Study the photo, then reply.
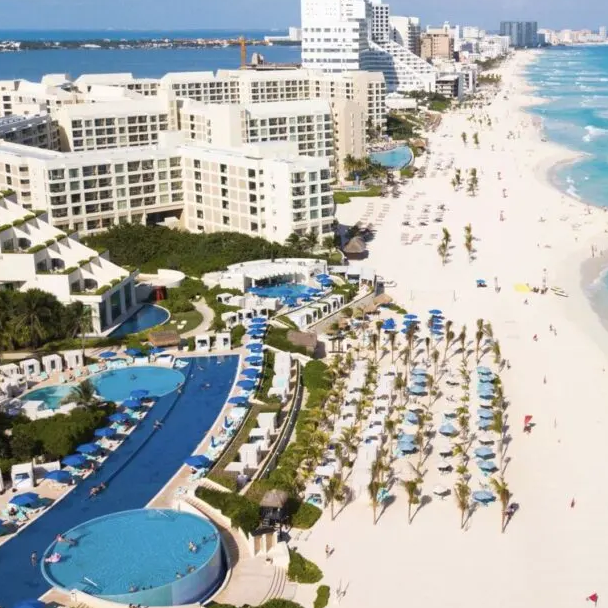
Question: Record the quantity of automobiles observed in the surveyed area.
0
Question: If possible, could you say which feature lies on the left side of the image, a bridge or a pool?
pool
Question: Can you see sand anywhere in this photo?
Yes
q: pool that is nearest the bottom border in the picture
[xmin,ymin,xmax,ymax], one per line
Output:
[39,506,236,608]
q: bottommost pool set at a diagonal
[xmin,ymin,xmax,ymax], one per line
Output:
[0,354,240,608]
